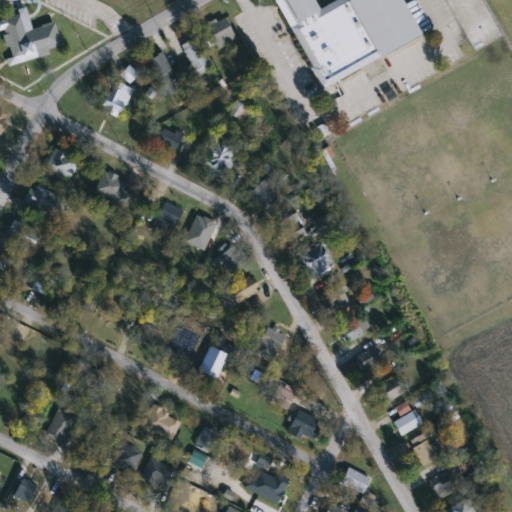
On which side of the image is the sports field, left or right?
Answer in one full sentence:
The sports field appears in the right half of the scene.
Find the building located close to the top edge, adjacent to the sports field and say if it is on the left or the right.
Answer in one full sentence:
The building located close to the top edge, adjacent to the sports field appears in the right half of the scene.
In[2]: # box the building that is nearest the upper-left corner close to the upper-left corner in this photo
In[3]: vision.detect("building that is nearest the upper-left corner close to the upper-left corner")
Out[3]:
[0,6,61,64]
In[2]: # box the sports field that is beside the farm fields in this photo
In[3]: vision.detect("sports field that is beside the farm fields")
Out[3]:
[335,38,512,336]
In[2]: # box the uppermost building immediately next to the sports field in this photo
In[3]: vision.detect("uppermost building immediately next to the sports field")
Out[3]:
[277,0,422,88]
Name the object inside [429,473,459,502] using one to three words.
house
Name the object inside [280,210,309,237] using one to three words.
house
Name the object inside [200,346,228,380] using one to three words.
barn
